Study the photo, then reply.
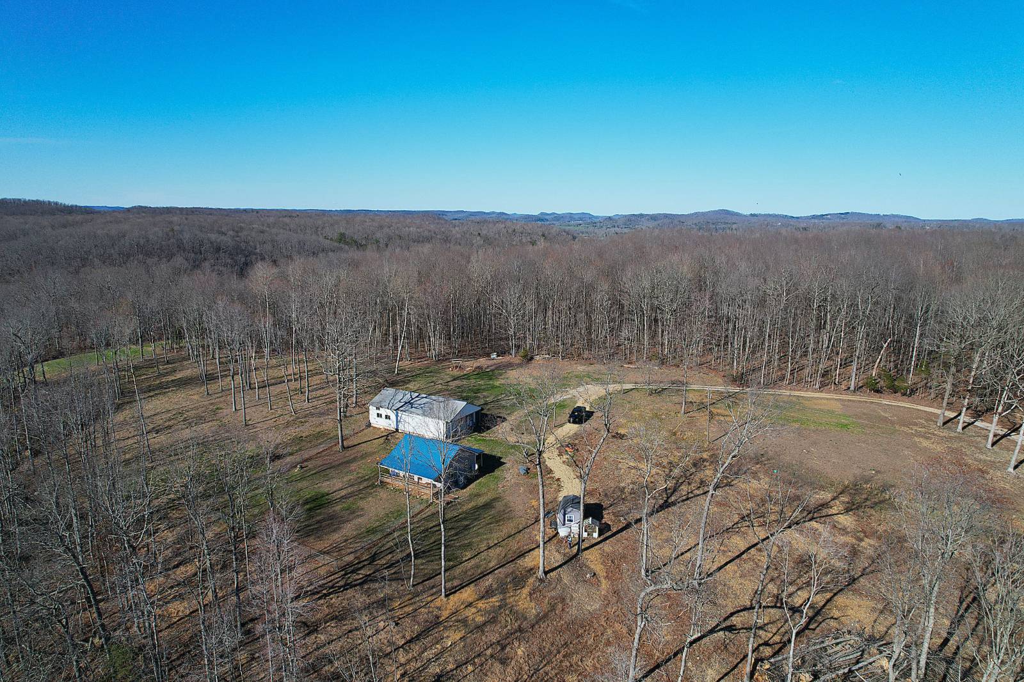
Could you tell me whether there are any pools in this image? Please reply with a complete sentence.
No, no pool is visible in the view.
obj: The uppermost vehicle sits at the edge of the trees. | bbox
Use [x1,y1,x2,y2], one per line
[568,407,585,423]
